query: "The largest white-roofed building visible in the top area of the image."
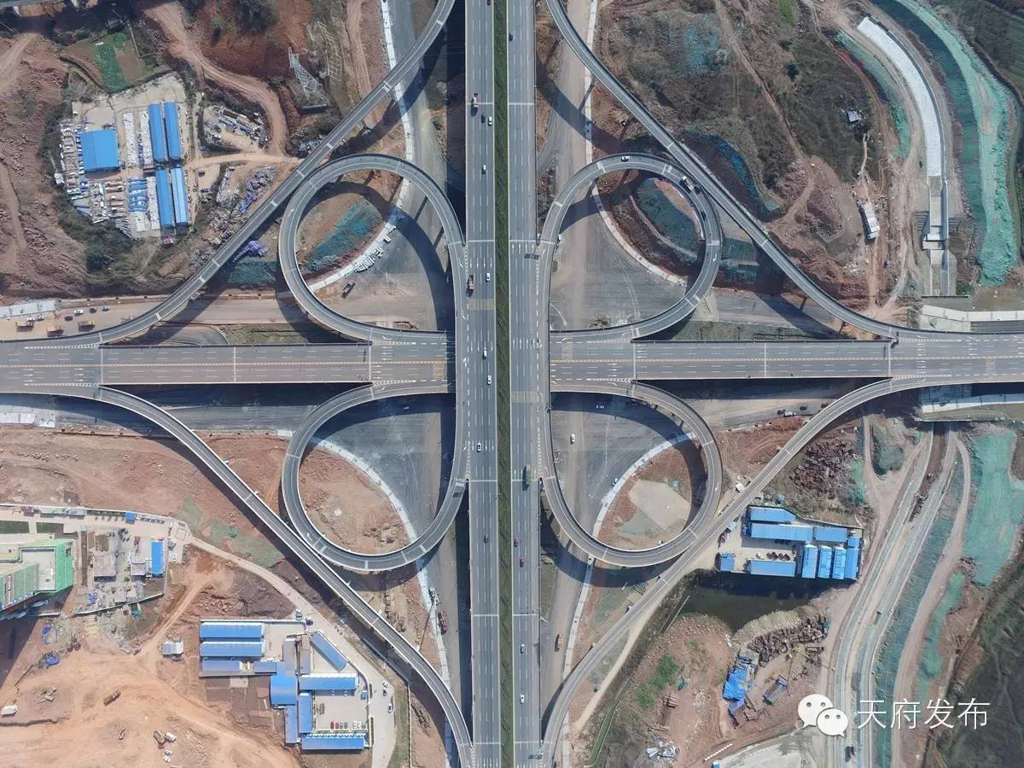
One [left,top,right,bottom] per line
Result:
[860,202,878,238]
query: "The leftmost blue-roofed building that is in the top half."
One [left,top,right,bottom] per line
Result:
[82,129,125,175]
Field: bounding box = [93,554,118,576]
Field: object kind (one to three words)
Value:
house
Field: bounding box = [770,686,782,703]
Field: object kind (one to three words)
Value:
vehicle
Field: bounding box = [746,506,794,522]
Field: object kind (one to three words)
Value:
shed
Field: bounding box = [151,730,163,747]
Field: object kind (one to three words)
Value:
vehicle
